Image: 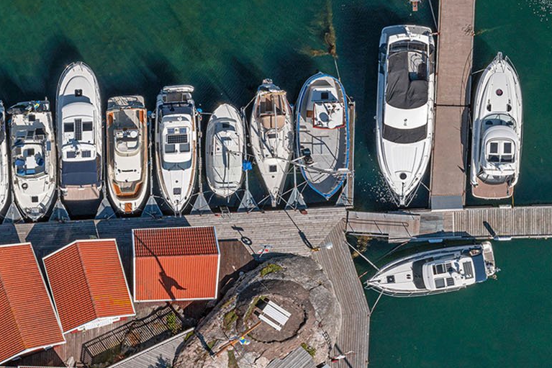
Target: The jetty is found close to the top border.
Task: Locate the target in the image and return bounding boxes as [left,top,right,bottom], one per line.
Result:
[434,0,473,105]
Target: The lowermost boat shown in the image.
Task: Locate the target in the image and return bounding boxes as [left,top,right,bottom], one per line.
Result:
[351,239,499,318]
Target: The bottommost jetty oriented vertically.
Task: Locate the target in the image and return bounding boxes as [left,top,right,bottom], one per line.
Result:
[429,106,469,198]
